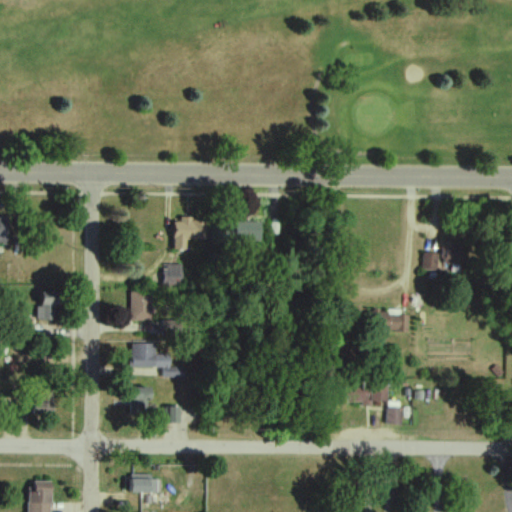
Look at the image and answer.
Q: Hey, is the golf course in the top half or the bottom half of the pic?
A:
top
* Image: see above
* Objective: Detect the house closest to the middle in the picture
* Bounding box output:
[236,220,263,236]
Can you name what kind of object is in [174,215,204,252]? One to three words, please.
house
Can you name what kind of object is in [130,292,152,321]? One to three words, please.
house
